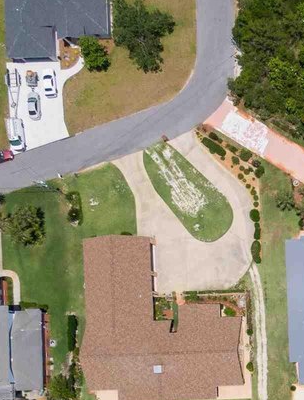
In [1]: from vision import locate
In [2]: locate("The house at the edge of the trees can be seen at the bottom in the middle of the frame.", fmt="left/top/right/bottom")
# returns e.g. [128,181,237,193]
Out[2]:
[79,236,246,400]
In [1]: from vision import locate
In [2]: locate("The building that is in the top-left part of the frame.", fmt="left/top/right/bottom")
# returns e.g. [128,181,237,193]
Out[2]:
[4,0,114,62]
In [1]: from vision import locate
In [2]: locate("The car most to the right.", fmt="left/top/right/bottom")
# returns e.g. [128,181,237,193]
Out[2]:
[43,69,59,98]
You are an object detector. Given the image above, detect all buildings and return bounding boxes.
[79,236,246,400]
[4,0,114,62]
[0,280,51,400]
[286,235,304,385]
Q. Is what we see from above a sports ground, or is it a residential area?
residential area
